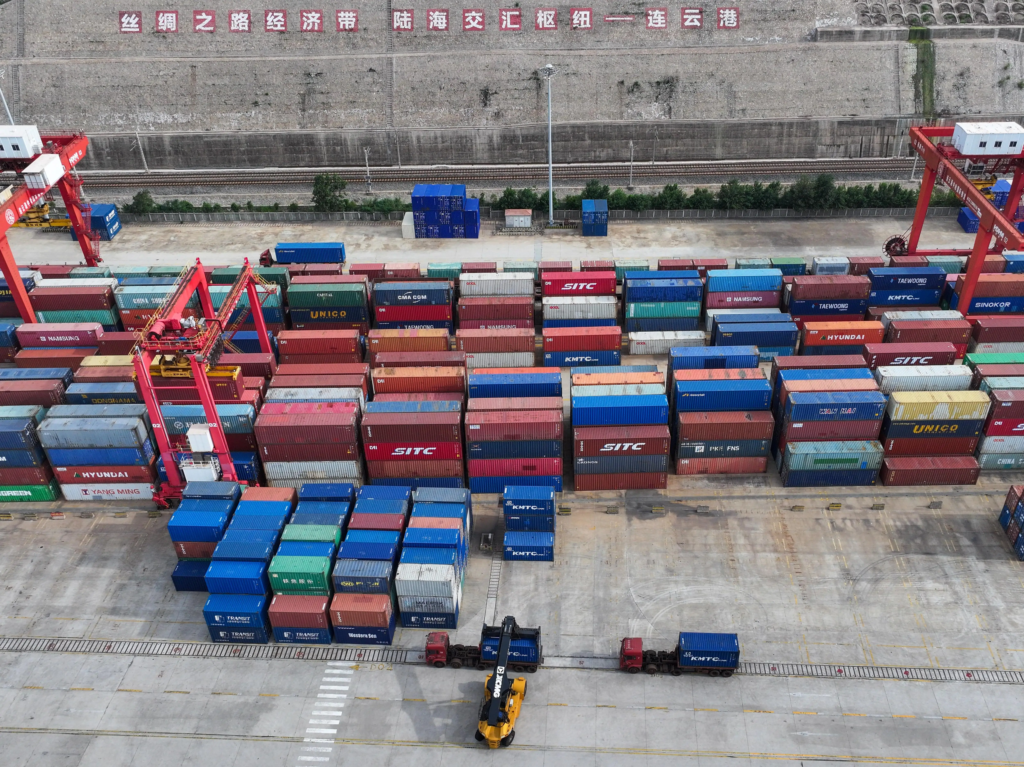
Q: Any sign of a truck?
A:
Yes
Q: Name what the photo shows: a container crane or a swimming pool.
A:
container crane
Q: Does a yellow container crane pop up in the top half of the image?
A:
No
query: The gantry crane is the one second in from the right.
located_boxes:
[124,257,296,509]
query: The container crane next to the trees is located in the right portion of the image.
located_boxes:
[885,117,1024,325]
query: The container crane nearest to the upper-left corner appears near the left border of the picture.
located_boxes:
[0,127,109,349]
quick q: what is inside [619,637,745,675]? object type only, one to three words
truck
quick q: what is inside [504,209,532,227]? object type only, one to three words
shed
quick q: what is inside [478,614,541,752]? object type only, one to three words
work vehicle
